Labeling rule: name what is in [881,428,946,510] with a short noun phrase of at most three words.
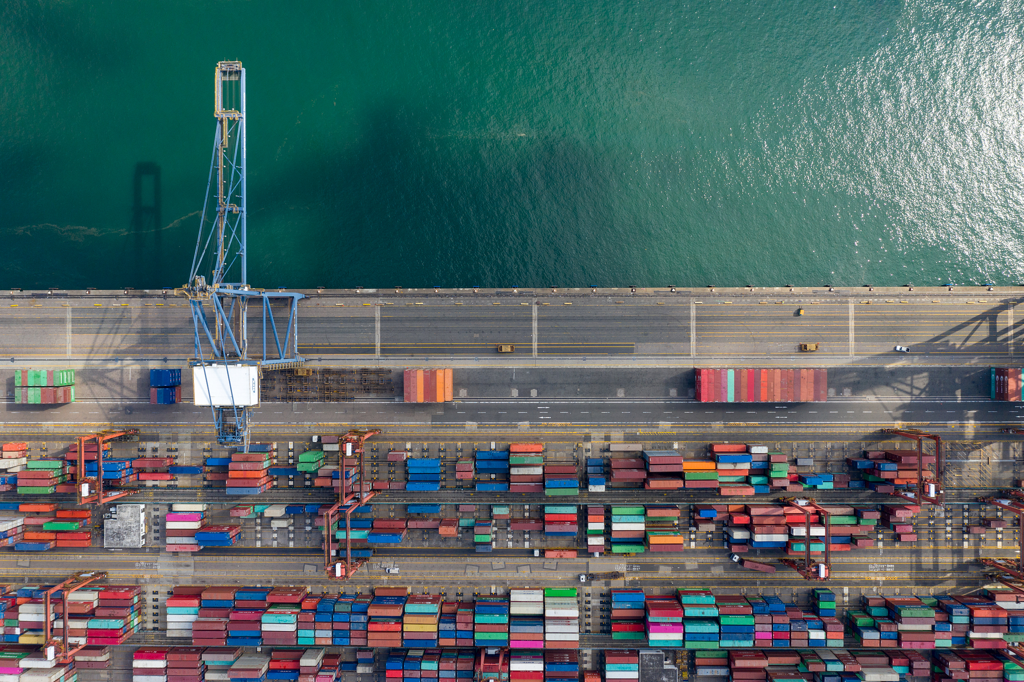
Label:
container crane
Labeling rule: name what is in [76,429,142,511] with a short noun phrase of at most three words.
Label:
container crane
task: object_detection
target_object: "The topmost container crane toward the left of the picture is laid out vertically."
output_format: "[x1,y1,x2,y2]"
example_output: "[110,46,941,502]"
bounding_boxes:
[171,57,314,453]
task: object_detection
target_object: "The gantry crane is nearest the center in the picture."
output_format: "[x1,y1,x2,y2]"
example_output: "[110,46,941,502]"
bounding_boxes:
[338,429,385,512]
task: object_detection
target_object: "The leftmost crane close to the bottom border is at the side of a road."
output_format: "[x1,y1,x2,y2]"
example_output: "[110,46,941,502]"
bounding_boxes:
[40,572,108,666]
